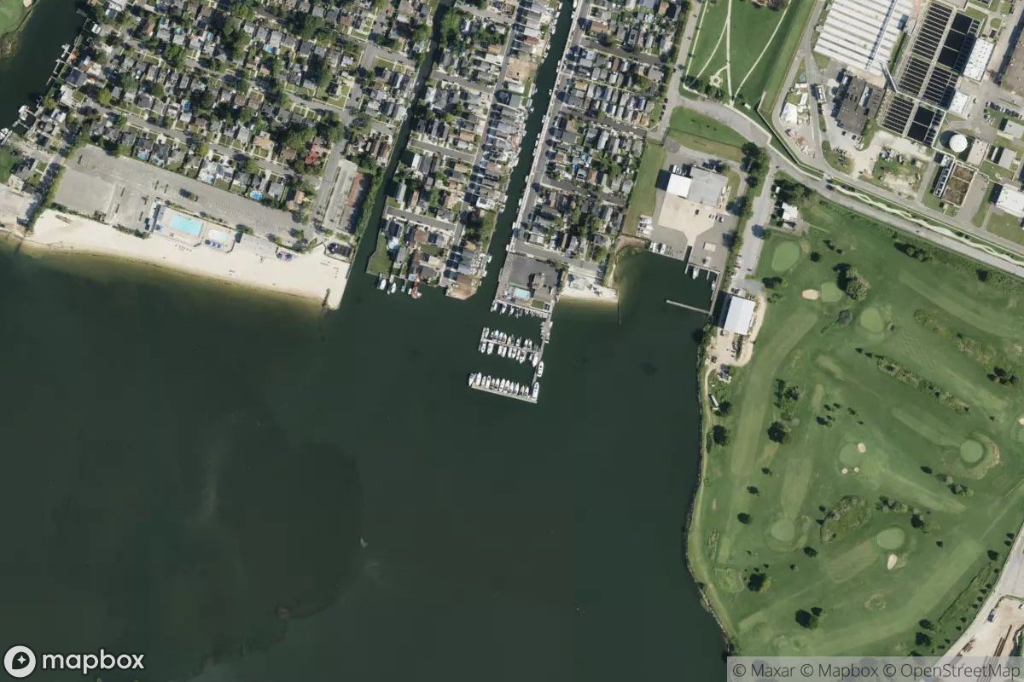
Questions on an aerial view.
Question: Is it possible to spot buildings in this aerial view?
Yes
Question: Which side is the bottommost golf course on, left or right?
right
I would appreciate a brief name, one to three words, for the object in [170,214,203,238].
swimming pool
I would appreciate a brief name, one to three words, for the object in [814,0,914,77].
building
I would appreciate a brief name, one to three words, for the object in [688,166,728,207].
building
